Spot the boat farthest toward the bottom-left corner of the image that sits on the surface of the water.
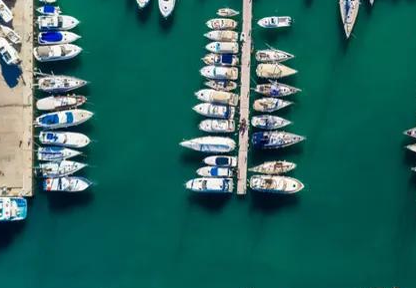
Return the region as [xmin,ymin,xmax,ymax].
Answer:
[0,197,30,221]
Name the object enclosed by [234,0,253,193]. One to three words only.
pier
